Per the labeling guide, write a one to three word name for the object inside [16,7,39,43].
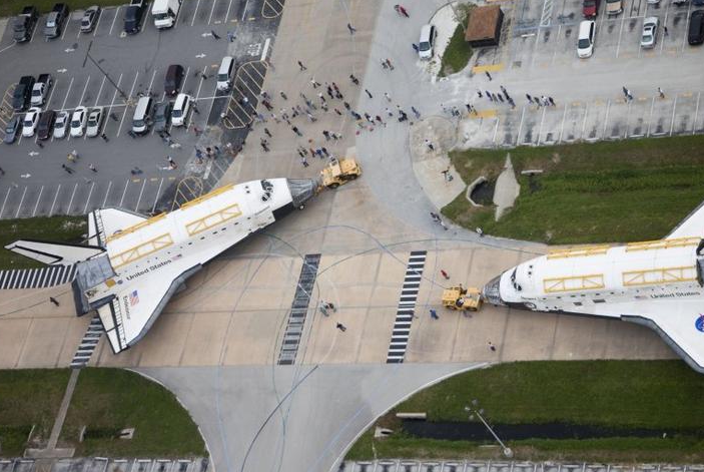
truck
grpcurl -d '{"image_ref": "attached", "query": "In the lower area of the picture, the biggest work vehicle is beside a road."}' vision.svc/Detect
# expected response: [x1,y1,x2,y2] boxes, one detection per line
[439,287,484,313]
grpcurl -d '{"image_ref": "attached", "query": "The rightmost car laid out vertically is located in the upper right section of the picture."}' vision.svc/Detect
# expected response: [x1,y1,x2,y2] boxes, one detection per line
[686,8,704,47]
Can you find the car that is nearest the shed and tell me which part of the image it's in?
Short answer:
top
